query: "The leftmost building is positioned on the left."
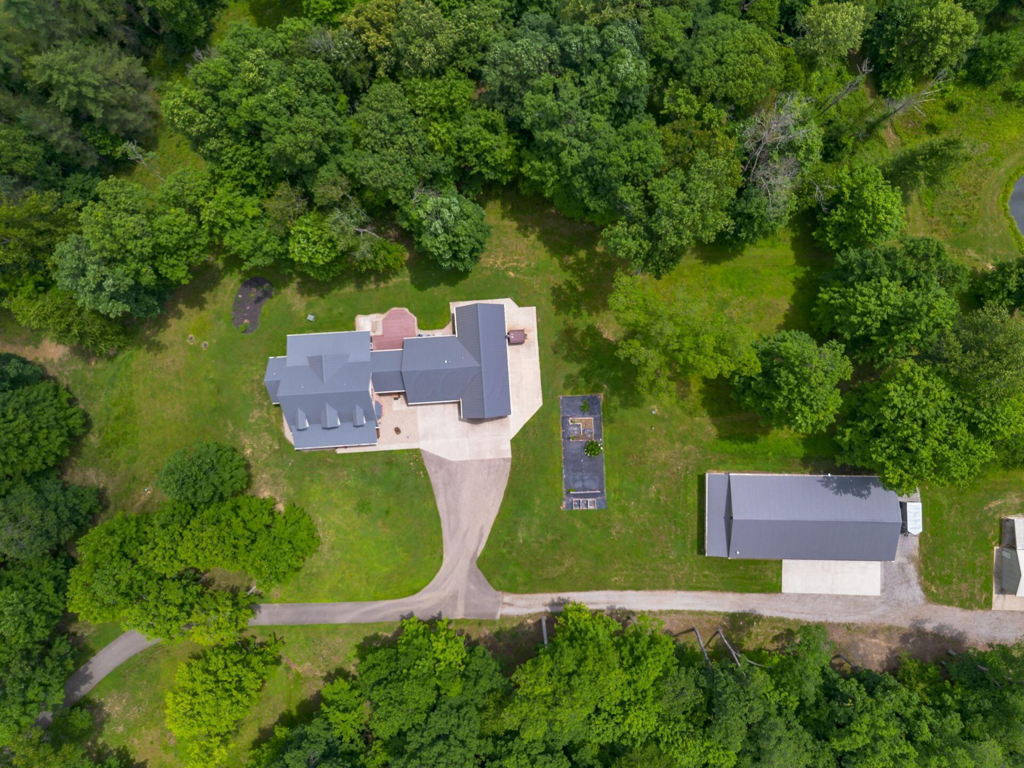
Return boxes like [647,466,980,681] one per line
[264,329,406,450]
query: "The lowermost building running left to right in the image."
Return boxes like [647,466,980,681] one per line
[701,472,905,562]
